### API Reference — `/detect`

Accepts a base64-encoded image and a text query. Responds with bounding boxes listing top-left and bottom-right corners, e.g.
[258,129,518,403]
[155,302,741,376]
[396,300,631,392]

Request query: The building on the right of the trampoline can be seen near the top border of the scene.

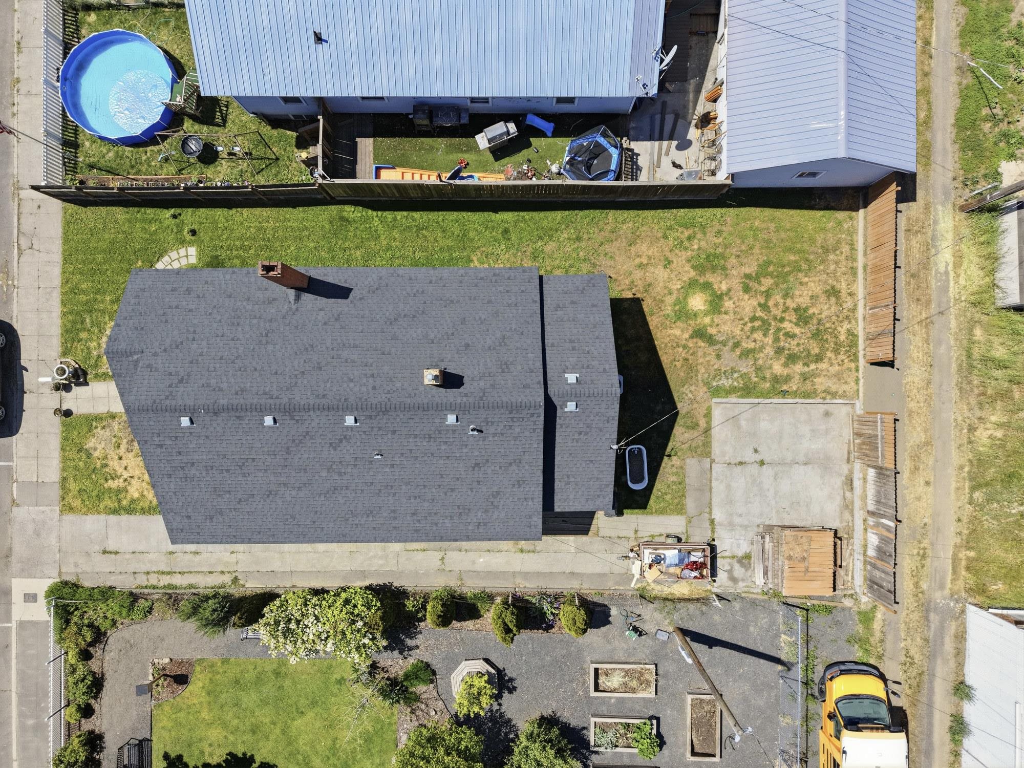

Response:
[715,0,917,187]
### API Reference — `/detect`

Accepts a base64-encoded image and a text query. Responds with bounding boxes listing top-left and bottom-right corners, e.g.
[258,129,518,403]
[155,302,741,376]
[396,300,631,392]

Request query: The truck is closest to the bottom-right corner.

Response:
[813,659,909,768]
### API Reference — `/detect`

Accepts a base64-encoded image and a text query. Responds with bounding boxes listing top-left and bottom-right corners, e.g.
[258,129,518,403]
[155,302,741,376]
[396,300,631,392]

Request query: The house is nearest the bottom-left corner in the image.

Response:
[104,259,620,542]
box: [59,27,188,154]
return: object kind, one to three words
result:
swimming pool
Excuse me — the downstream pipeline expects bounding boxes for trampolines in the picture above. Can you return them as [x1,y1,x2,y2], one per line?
[566,113,628,180]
